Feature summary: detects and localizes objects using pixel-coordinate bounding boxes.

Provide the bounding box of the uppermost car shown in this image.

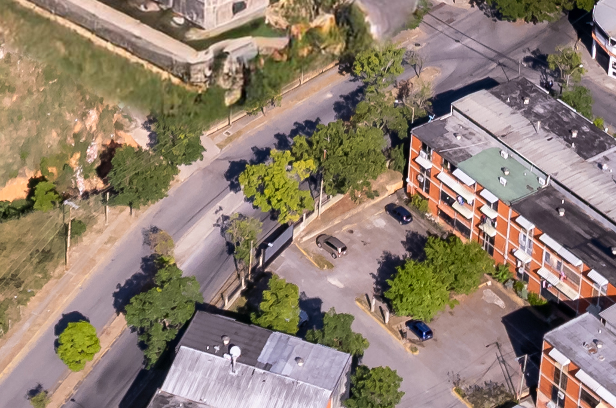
[379,201,419,226]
